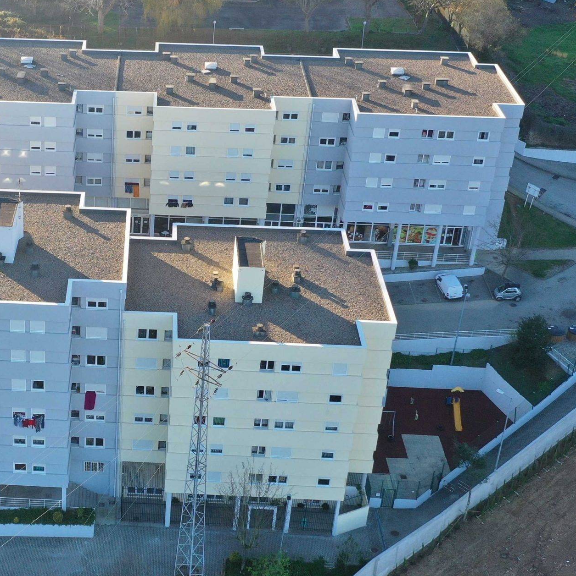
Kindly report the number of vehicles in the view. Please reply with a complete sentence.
In total, 2 vehicles can be seen.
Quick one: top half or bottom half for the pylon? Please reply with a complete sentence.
It is in the bottom half that the pylon appears.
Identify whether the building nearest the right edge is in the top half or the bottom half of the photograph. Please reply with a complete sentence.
It is in the top half that the building nearest the right edge appears.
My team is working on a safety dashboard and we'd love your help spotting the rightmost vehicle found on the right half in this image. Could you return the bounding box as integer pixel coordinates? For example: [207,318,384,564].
[493,281,522,301]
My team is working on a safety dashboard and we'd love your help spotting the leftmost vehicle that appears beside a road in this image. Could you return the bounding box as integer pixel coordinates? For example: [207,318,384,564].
[436,273,465,298]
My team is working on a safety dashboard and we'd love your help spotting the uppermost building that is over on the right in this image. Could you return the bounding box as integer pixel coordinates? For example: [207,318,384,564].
[298,48,524,262]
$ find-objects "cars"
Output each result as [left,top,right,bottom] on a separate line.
[436,273,465,298]
[493,281,522,301]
